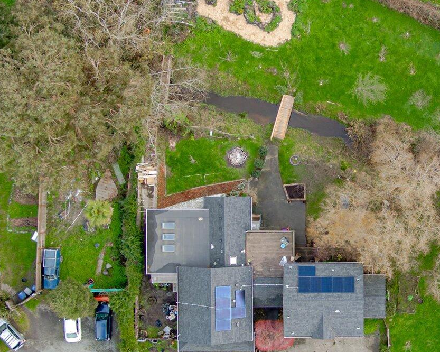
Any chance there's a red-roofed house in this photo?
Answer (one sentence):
No, the frame has no red-roofed house in it.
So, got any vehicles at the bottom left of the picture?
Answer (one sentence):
Yes, the scene does show a vehicle at the bottom left of the picture.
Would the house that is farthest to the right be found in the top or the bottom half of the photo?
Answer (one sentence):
It is in the bottom half that the house that is farthest to the right appears.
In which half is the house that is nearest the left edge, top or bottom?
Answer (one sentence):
It is in the bottom half that the house that is nearest the left edge appears.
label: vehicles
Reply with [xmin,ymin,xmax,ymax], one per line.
[64,315,83,343]
[0,314,27,352]
[92,301,114,343]
[38,248,61,290]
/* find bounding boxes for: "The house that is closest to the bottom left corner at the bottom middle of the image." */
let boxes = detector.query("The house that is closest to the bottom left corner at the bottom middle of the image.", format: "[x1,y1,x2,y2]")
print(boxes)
[146,196,283,352]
